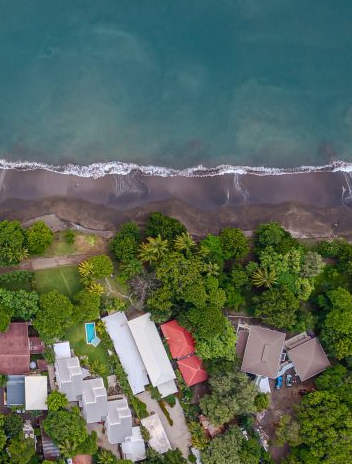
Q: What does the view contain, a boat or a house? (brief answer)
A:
house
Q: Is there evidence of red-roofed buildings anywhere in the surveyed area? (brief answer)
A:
Yes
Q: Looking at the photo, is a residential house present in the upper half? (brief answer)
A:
No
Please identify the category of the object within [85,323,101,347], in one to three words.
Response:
swimming pool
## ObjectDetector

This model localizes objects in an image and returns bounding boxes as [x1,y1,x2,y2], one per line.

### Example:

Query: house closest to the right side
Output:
[284,338,330,381]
